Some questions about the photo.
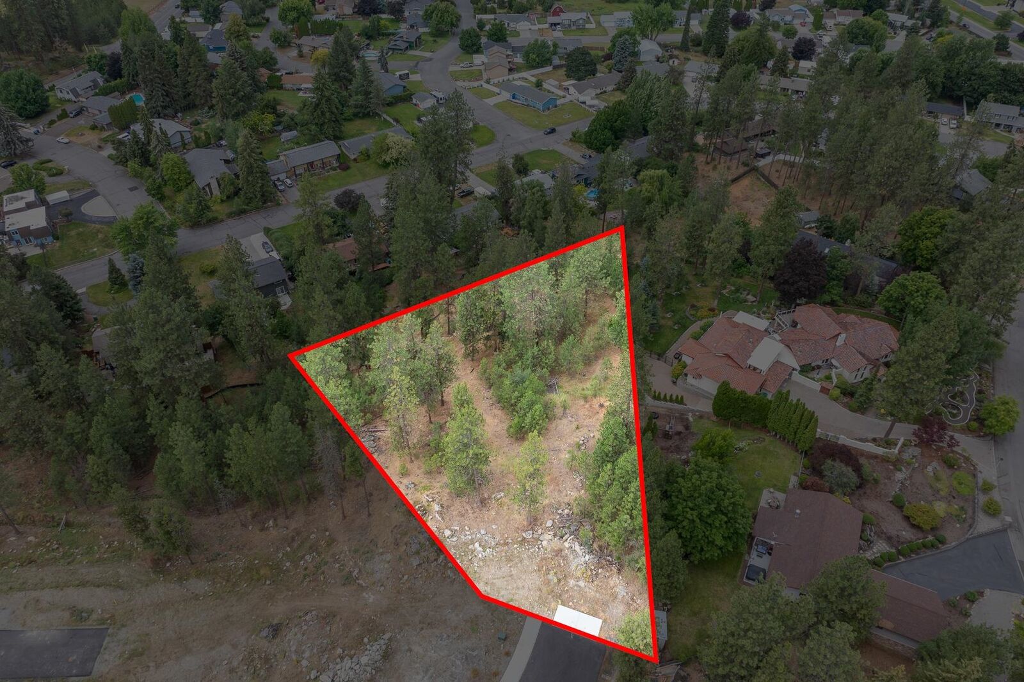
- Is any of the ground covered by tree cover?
Yes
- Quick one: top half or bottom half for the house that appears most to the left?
top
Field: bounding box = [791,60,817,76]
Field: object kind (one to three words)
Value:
shed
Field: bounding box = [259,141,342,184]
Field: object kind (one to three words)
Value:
house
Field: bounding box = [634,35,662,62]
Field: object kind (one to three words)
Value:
barn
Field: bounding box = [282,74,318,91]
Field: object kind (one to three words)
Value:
house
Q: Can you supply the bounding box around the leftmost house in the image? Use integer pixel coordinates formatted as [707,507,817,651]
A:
[0,198,61,254]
